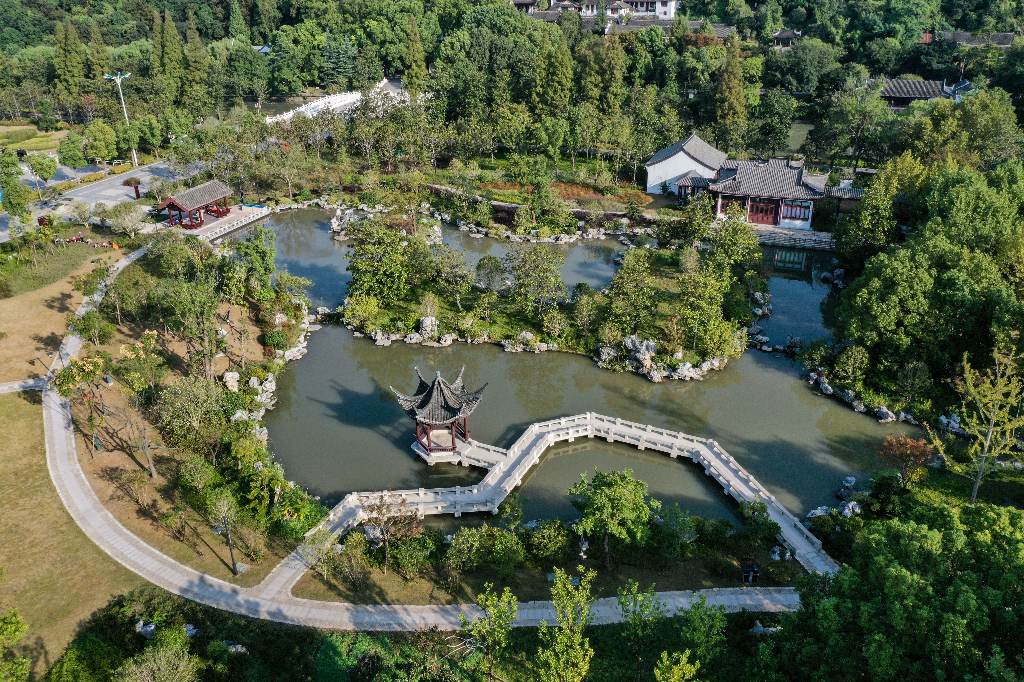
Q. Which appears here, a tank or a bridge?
bridge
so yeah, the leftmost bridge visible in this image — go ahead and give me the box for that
[263,84,416,124]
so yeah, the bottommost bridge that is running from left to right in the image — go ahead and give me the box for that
[306,412,840,568]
